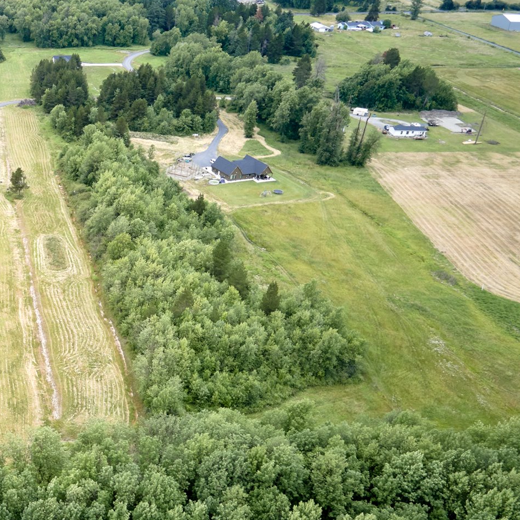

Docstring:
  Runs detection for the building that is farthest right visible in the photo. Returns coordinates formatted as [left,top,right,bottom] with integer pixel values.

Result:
[495,13,520,31]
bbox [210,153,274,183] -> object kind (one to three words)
house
